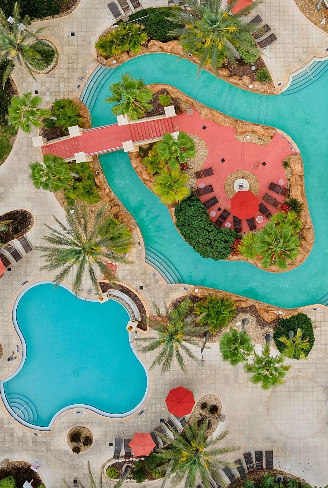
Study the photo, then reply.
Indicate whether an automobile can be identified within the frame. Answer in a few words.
No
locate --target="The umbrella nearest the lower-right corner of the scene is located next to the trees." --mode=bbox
[165,384,196,416]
